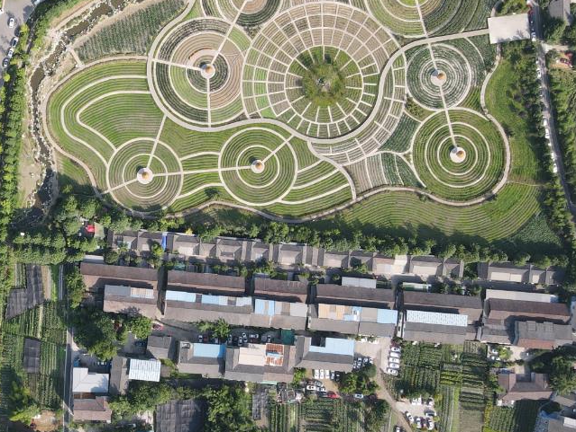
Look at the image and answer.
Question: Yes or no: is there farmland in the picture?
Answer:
Yes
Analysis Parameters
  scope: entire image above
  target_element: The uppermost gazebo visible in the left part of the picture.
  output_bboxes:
[200,62,216,77]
